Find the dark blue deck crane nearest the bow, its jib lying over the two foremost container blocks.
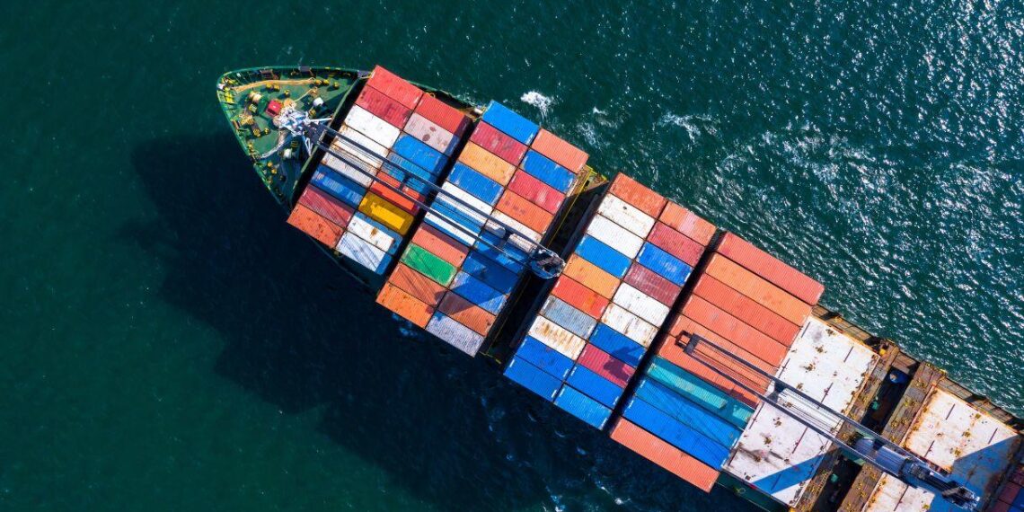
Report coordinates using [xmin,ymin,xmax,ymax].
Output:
[302,120,565,278]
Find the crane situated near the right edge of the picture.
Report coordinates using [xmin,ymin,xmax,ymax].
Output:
[673,330,975,510]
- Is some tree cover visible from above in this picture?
No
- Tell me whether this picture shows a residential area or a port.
port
